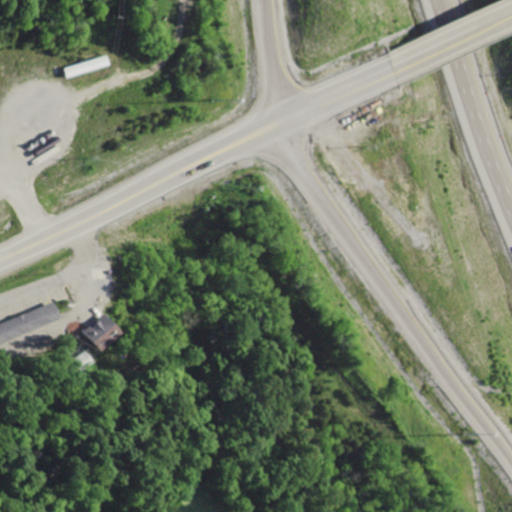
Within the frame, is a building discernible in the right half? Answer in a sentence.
No, no building appears in the right half.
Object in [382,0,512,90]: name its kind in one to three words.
bridge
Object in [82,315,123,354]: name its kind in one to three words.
house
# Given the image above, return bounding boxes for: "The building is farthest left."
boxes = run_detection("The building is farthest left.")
[0,297,60,342]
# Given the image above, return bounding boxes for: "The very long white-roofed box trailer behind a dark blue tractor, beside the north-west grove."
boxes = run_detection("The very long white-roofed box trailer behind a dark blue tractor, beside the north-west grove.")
[54,56,110,78]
